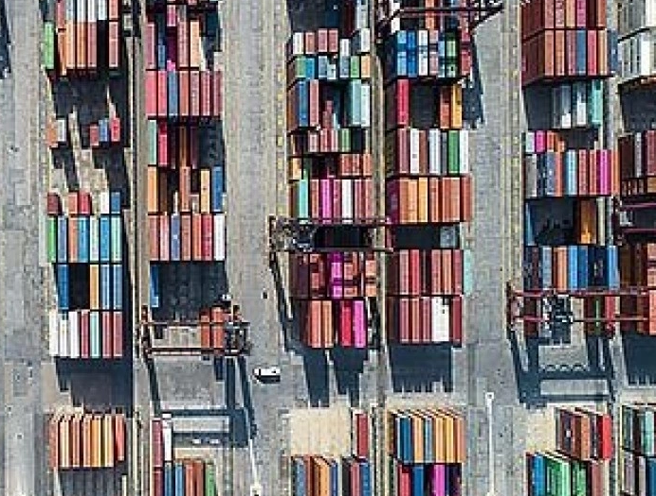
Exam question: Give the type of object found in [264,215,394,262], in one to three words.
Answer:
container crane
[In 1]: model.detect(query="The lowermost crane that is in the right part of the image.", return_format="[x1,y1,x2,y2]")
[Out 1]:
[504,282,655,326]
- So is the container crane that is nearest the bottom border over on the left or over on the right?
left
